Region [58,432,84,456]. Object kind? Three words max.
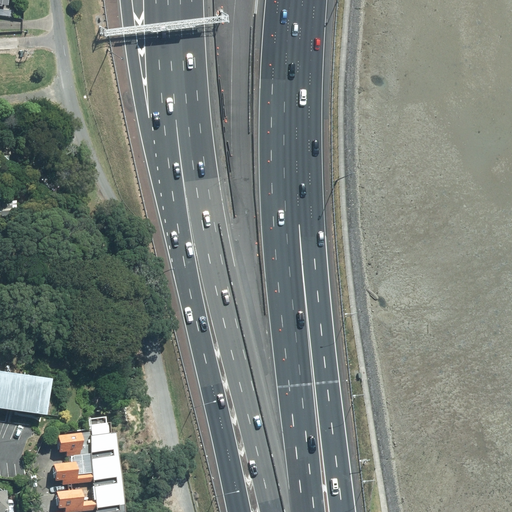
house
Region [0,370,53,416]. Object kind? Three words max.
building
